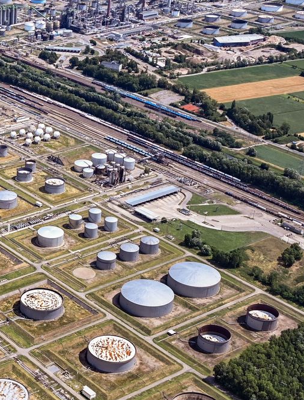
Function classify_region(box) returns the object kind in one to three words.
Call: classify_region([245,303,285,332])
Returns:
storage tank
